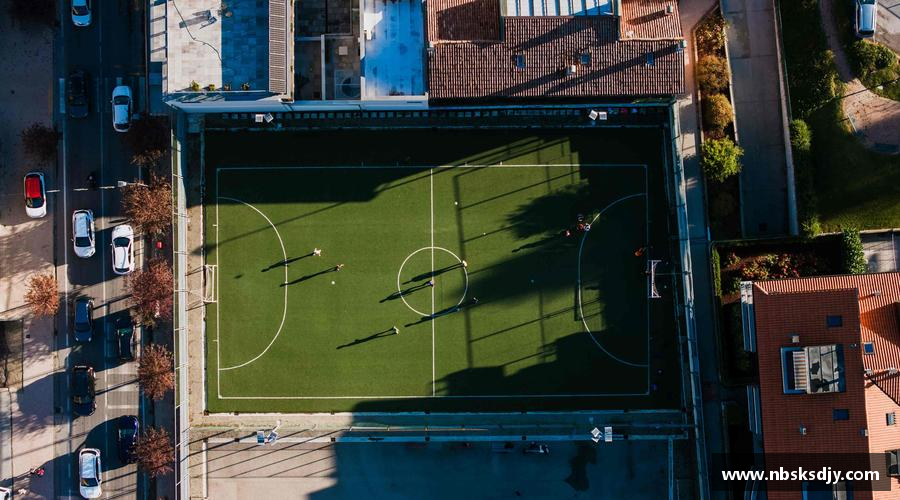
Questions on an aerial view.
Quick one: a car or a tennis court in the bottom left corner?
car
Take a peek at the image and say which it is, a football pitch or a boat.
football pitch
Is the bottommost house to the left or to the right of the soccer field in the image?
to the right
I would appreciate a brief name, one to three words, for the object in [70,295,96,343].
car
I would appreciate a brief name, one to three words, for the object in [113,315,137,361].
car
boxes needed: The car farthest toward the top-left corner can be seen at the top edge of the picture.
[69,0,93,29]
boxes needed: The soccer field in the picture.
[201,127,685,416]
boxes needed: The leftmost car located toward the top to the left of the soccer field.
[23,171,49,219]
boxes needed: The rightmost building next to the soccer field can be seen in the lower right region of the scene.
[738,273,900,500]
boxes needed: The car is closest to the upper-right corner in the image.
[853,0,880,40]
